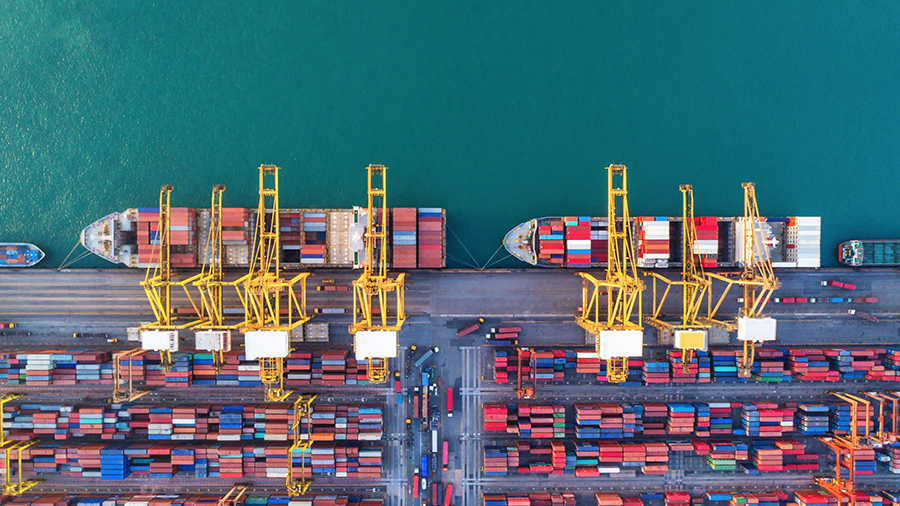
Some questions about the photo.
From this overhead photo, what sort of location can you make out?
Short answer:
port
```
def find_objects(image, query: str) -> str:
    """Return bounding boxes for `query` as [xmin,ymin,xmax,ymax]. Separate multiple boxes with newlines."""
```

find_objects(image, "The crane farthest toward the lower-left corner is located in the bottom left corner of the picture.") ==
[4,437,45,503]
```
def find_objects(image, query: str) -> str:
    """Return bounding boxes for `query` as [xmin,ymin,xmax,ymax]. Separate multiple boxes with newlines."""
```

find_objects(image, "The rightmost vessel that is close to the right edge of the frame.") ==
[834,238,900,266]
